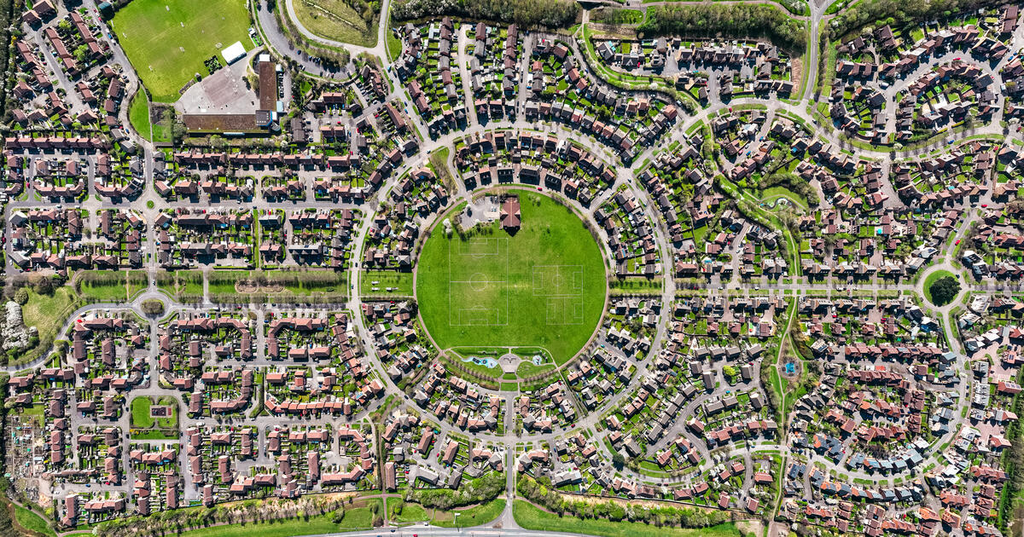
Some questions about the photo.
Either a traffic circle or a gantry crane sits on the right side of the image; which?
traffic circle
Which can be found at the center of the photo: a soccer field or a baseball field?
soccer field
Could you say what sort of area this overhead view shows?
residential area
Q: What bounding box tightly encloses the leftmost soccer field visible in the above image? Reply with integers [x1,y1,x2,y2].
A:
[448,236,509,326]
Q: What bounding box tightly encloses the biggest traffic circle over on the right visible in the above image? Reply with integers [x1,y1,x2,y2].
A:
[917,263,967,313]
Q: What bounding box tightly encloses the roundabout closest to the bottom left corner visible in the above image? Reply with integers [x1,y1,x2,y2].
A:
[135,288,170,323]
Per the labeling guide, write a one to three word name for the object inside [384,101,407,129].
house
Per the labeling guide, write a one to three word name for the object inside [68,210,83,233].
house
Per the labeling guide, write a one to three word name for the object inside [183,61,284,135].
building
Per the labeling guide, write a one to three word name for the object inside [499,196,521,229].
building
